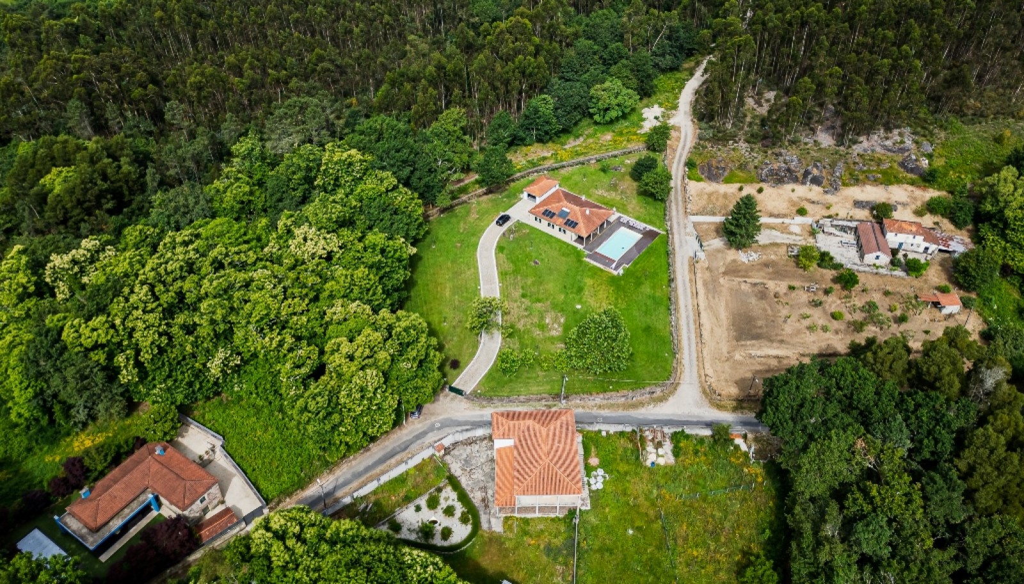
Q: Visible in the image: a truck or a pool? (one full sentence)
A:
Visible in the photo is a pool.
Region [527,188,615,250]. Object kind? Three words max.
house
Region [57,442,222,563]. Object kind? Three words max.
house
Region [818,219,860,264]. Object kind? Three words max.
shed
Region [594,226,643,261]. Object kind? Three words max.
swimming pool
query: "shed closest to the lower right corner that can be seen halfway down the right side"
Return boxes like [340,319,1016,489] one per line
[917,293,962,312]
